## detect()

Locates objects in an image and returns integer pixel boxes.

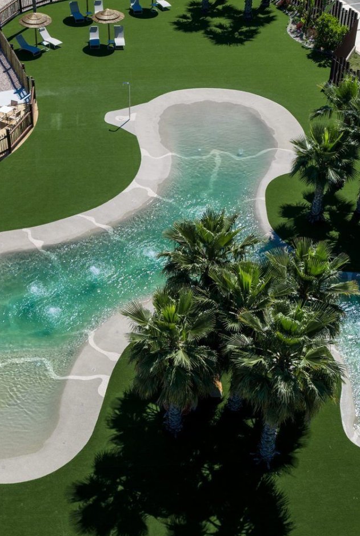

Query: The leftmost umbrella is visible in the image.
[18,11,51,46]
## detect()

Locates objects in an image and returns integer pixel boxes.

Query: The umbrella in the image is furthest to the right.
[92,10,125,45]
